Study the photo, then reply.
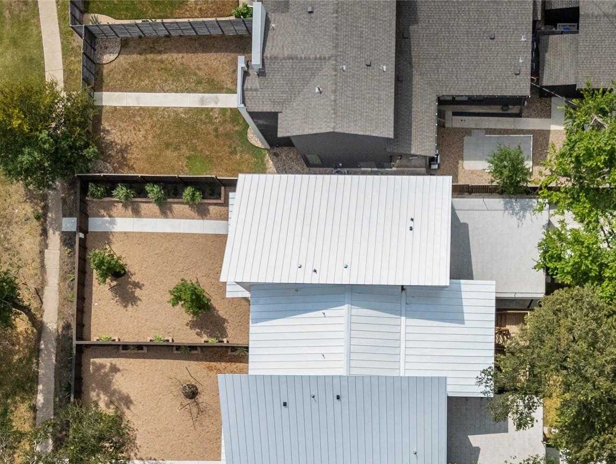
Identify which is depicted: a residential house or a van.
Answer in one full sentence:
This aerial view contains a residential house.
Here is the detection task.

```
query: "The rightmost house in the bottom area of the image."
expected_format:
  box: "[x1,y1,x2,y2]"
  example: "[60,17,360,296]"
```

[219,174,493,464]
